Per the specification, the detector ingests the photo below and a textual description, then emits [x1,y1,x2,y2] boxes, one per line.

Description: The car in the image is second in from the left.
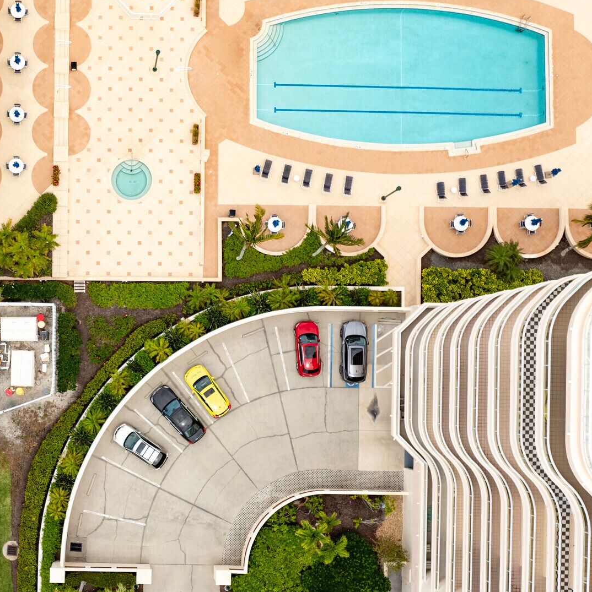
[152,383,205,445]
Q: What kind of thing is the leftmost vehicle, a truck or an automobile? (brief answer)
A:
automobile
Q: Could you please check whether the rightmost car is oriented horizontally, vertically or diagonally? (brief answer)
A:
vertically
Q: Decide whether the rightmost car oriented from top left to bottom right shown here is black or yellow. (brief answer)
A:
yellow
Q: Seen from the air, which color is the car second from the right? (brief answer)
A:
red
